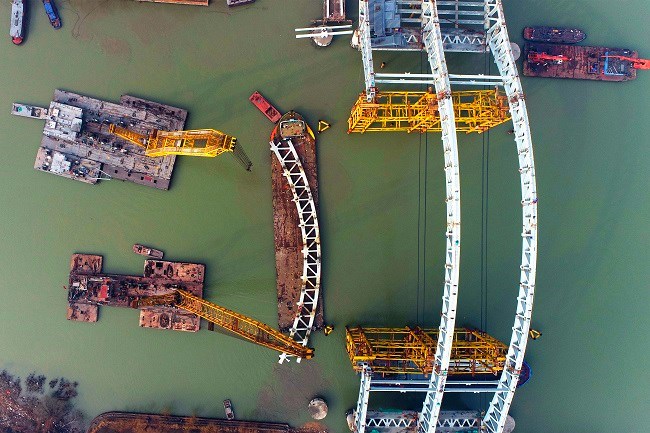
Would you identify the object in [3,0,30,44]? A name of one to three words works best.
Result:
ship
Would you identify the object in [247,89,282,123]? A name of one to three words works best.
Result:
boat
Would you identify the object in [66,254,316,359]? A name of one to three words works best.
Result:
crane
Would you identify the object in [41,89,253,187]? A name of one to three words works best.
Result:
crane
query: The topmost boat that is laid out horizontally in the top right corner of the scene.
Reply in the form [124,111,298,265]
[524,25,585,44]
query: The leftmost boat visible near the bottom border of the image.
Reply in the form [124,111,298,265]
[222,398,235,419]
